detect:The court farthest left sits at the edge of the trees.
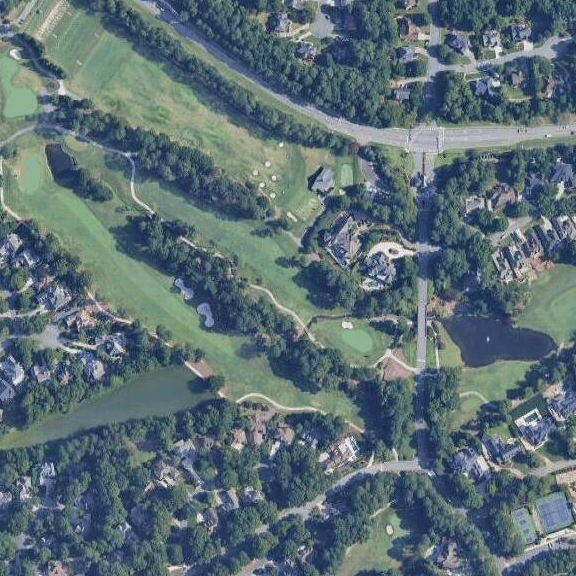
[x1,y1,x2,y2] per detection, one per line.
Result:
[512,507,538,543]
